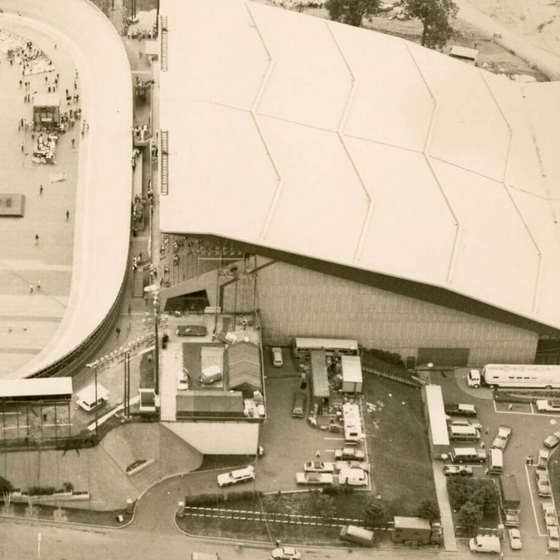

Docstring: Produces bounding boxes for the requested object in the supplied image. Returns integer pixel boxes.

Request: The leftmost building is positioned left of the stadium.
[33,92,60,124]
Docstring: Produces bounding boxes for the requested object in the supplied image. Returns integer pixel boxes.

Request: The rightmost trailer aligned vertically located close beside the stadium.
[424,380,453,465]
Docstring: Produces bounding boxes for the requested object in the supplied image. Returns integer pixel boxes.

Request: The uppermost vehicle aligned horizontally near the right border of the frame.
[464,367,560,394]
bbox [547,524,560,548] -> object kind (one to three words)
vehicle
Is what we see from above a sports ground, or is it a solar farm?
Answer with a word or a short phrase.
sports ground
